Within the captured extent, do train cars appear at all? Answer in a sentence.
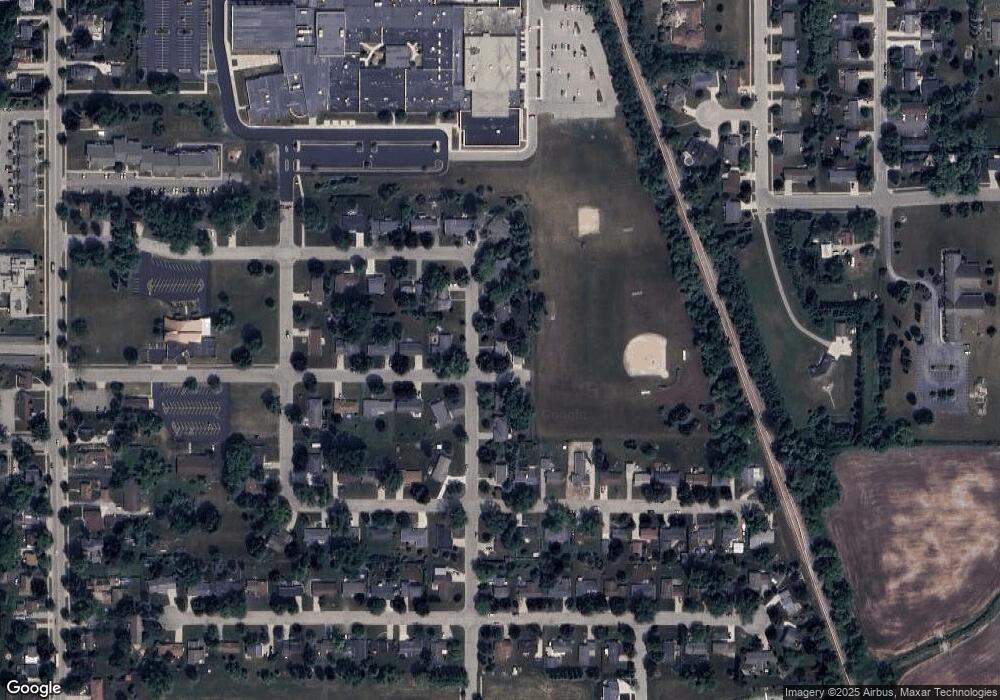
No, there is no train car in the image.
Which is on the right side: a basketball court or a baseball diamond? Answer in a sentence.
Visible on the right side is a baseball diamond.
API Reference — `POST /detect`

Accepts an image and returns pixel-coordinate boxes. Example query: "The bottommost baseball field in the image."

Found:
[624,333,679,387]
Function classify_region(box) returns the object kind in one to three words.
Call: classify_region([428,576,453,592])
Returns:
house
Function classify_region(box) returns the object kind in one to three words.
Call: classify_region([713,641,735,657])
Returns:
house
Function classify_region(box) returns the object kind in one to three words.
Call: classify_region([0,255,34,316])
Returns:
building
